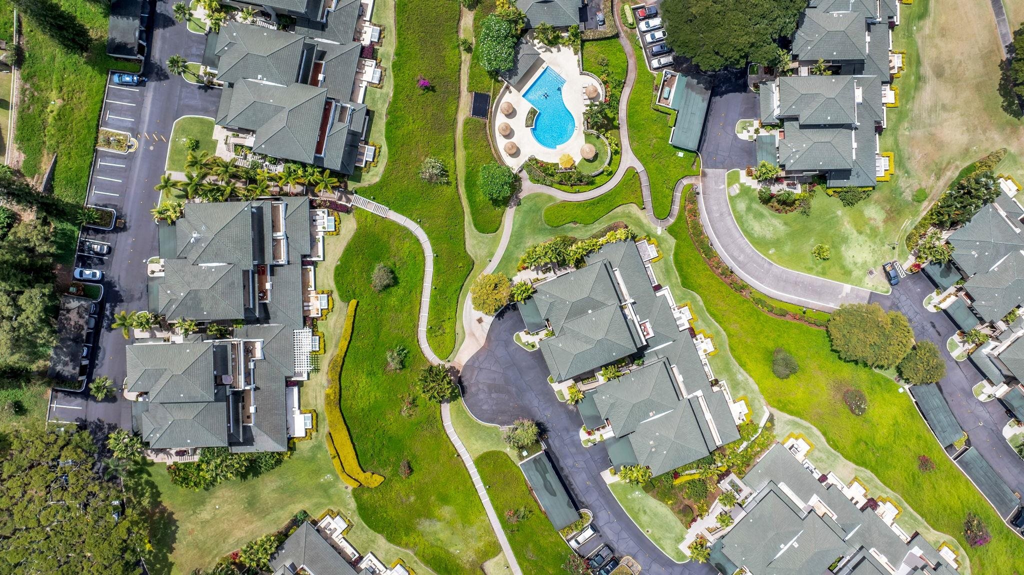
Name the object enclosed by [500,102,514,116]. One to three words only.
umbrella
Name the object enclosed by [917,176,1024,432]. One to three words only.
building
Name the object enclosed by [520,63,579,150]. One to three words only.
swimming pool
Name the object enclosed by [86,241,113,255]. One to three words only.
car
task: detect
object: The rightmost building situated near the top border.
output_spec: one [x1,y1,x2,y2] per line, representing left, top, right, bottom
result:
[752,0,900,187]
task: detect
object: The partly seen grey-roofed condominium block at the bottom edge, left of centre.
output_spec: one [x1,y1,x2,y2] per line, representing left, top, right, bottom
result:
[269,514,389,575]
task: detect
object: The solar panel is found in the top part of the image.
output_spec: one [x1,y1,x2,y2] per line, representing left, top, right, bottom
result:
[470,92,490,119]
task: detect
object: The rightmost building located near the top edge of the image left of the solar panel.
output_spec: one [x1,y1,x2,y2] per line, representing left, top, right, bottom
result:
[202,0,378,175]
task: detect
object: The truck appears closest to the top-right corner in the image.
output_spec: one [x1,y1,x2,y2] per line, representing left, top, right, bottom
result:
[879,259,901,288]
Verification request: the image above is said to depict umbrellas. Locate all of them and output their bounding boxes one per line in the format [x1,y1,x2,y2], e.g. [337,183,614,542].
[500,102,514,116]
[558,153,573,168]
[498,123,512,137]
[585,86,598,99]
[503,141,517,156]
[580,144,596,160]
